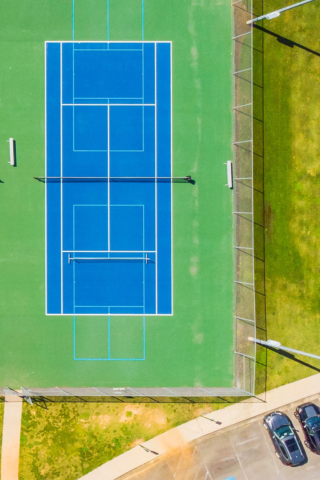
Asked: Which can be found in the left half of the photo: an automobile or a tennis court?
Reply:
tennis court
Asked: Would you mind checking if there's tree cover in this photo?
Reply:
No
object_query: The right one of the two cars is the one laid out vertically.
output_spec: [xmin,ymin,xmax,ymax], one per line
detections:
[296,400,320,456]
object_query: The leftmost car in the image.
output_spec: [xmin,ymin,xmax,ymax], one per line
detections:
[261,412,304,468]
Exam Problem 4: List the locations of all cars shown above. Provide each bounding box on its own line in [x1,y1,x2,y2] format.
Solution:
[261,412,304,468]
[296,400,320,456]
